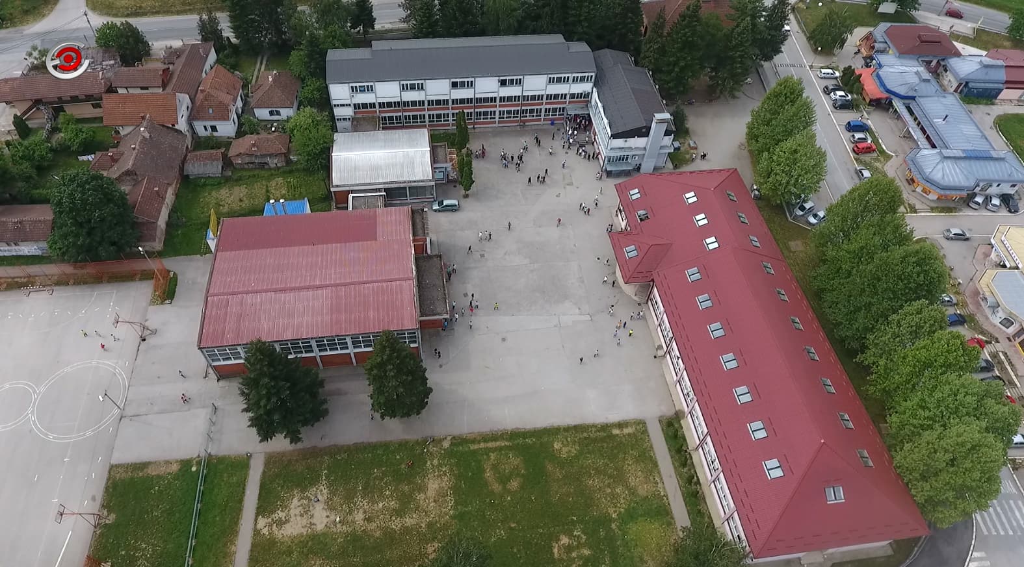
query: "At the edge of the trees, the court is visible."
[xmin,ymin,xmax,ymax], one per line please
[0,280,156,567]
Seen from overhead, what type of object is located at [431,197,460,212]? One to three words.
car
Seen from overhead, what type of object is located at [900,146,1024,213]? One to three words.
building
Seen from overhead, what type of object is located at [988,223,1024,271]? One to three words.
building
